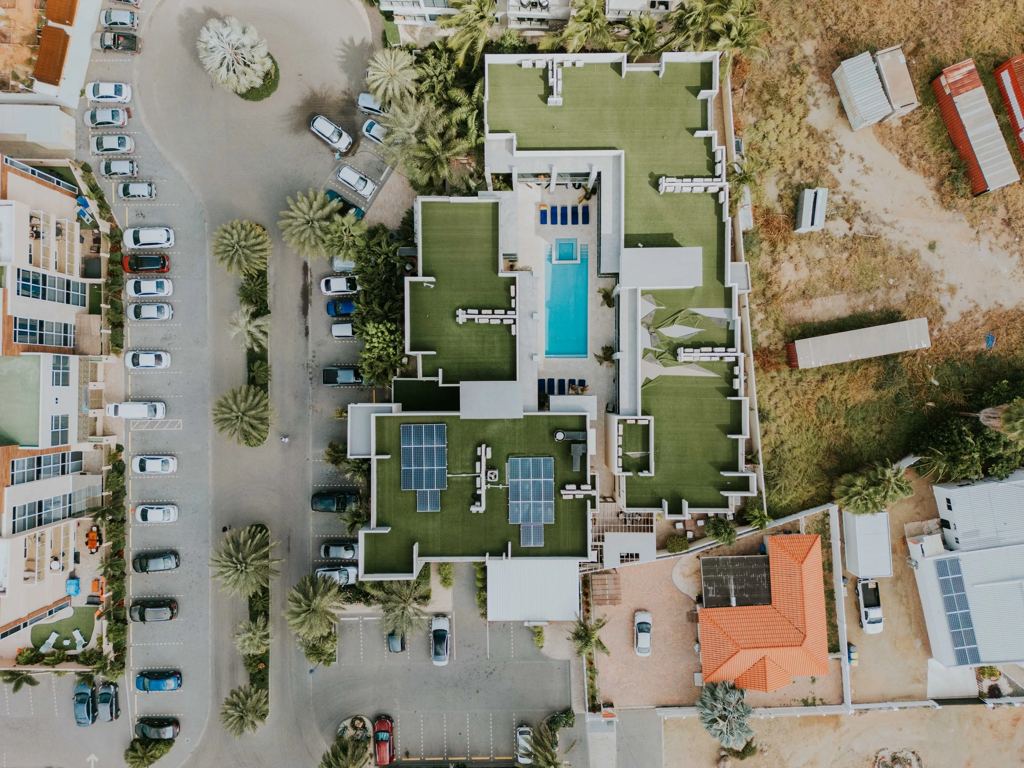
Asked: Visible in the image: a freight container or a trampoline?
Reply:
freight container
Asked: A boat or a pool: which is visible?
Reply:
pool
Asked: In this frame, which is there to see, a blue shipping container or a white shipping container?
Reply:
white shipping container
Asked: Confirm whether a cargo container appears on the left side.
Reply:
No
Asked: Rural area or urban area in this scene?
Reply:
urban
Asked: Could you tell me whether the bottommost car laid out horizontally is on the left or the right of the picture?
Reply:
left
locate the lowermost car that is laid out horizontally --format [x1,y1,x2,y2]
[136,715,183,738]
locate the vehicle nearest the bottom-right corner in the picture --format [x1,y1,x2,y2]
[856,578,886,633]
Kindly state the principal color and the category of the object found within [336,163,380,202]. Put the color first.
white car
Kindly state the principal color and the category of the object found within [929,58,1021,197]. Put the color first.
white shipping container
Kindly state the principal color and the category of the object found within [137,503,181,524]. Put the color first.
white car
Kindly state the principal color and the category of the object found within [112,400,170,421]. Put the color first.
white vehicle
